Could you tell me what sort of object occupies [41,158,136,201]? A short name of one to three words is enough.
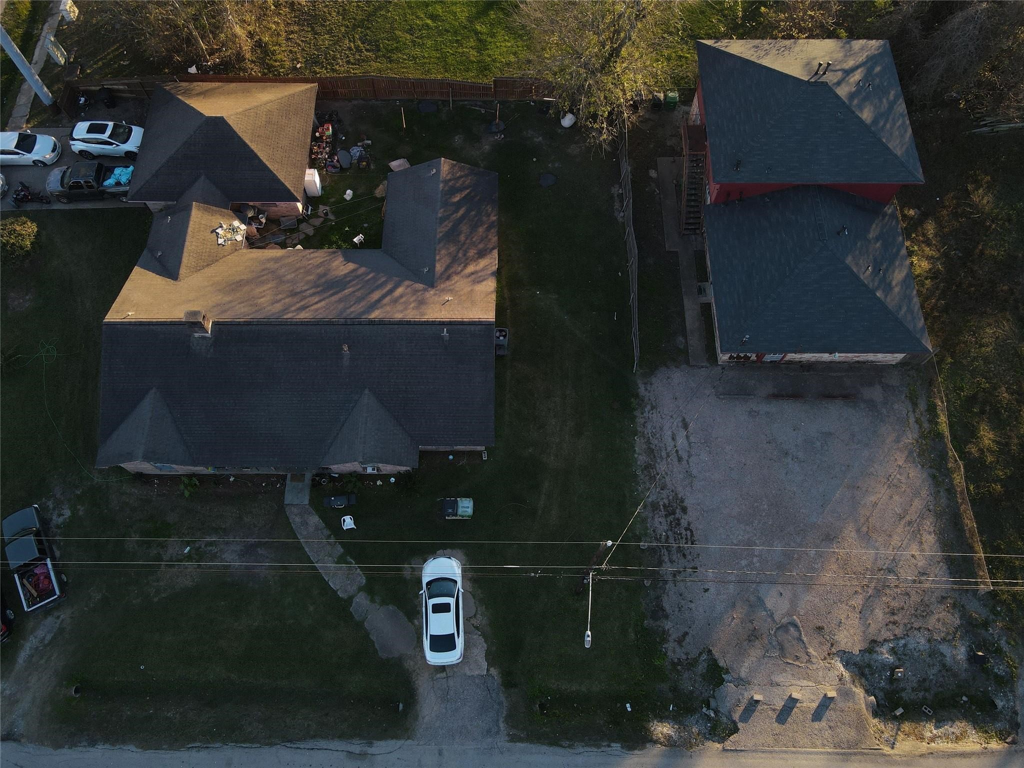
truck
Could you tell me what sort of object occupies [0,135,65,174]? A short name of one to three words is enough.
car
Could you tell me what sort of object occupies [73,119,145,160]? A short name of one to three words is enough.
car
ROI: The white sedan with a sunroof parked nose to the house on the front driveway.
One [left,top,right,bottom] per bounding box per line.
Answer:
[418,554,465,669]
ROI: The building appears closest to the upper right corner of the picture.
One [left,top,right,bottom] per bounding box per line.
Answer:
[687,39,935,379]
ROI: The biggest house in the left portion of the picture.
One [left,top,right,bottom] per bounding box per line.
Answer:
[95,158,498,479]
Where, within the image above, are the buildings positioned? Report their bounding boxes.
[95,158,498,479]
[687,39,935,379]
